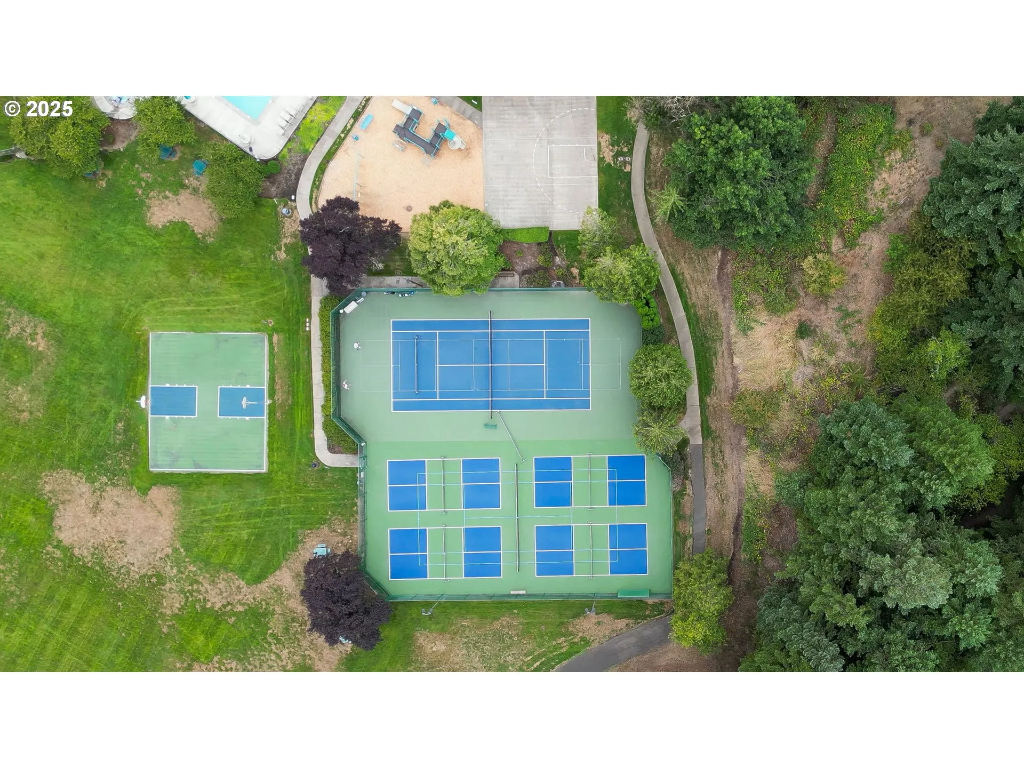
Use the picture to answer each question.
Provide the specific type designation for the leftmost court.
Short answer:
basketball court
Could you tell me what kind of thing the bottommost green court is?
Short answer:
tennis court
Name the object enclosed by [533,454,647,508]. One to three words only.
sports court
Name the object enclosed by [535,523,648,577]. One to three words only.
sports court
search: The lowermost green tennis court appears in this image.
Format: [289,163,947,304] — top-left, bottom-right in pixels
[366,442,671,594]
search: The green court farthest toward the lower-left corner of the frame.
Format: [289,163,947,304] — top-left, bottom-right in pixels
[148,332,269,474]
